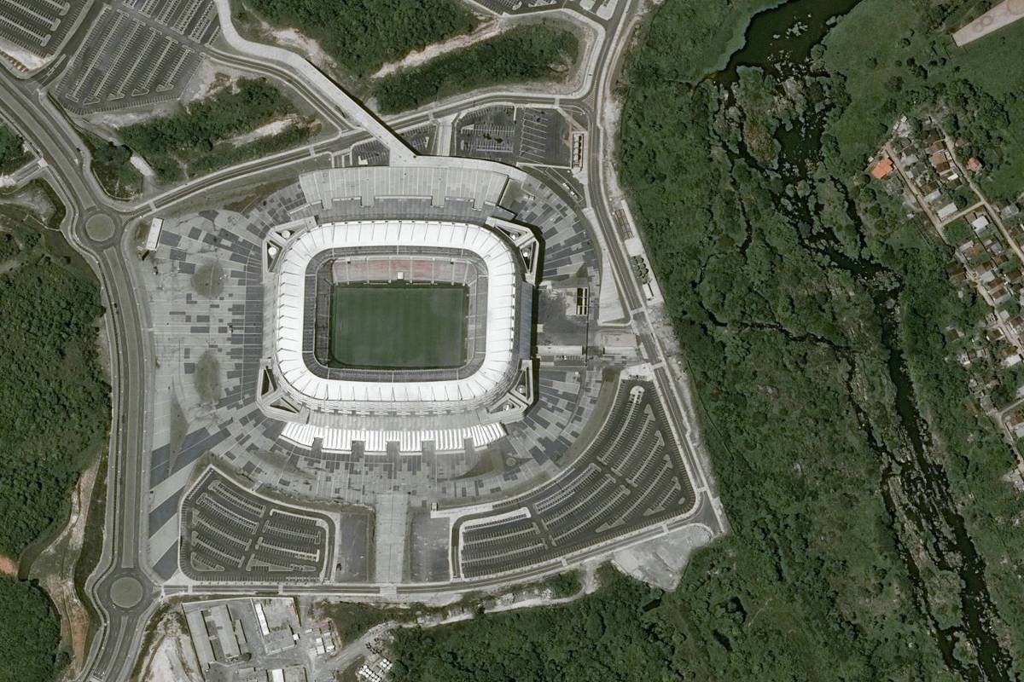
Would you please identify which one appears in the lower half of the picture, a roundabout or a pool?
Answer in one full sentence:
What appears in the lower half of the picture is a roundabout.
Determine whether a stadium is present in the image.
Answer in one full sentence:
Yes, looking at the shot, I can spot a stadium.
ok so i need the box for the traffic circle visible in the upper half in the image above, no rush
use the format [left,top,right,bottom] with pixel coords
[77,204,125,250]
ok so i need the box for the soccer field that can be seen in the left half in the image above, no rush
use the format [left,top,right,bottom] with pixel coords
[330,285,471,370]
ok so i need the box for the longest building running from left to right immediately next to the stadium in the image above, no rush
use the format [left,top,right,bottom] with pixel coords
[538,345,582,357]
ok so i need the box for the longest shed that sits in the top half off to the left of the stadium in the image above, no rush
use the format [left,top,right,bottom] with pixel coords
[147,218,164,251]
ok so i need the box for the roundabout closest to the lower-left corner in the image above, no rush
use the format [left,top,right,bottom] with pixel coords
[99,565,154,617]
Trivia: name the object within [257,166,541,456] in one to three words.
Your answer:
stadium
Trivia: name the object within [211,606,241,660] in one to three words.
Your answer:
building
